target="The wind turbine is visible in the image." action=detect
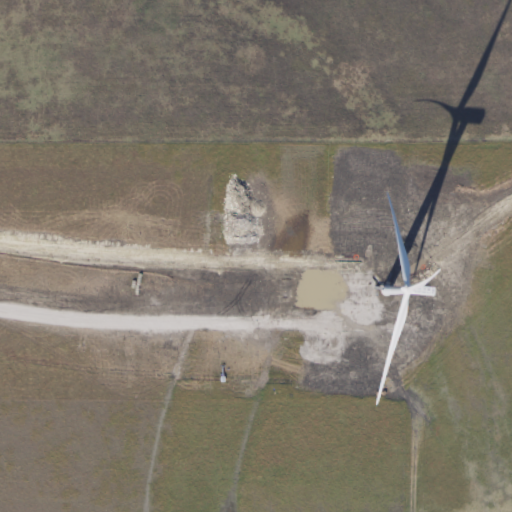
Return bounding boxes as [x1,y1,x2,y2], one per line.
[377,188,440,403]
